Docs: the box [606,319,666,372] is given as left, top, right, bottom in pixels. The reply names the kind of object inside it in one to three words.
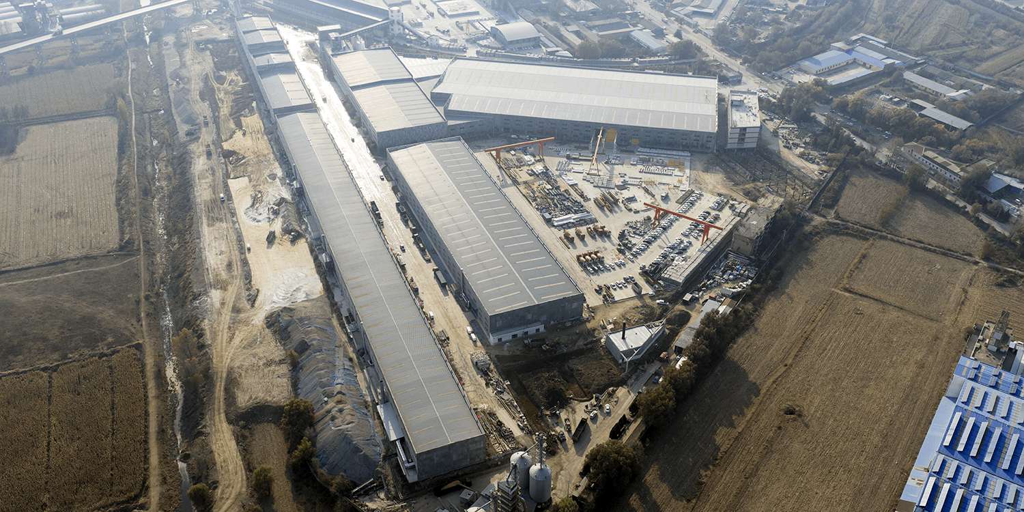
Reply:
building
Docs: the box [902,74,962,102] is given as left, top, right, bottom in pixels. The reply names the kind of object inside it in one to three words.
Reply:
shed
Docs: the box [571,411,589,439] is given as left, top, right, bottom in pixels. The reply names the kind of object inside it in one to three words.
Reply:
vehicle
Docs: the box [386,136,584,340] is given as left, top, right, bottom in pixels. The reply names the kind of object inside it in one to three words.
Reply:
building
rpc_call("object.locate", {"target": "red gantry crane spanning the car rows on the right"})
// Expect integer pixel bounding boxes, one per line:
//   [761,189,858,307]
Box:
[644,203,723,240]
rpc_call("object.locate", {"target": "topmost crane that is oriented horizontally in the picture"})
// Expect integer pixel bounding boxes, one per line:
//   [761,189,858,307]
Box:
[484,138,555,168]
